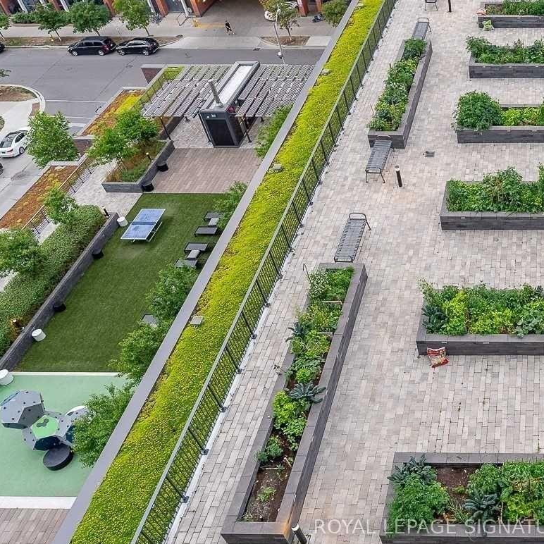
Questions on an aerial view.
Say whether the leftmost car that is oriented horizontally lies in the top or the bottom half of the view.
top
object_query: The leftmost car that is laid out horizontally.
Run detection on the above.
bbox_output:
[65,32,120,55]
